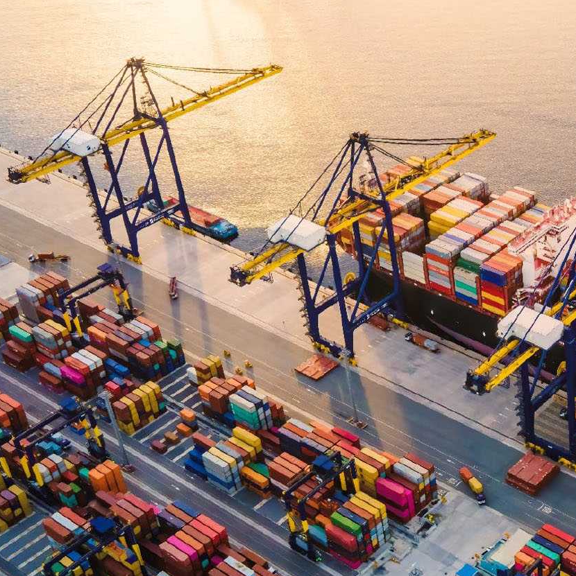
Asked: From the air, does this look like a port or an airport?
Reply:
port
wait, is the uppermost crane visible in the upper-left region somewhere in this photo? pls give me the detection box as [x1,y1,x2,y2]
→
[5,53,283,262]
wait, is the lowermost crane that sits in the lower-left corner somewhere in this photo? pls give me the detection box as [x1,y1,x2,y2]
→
[45,513,157,576]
